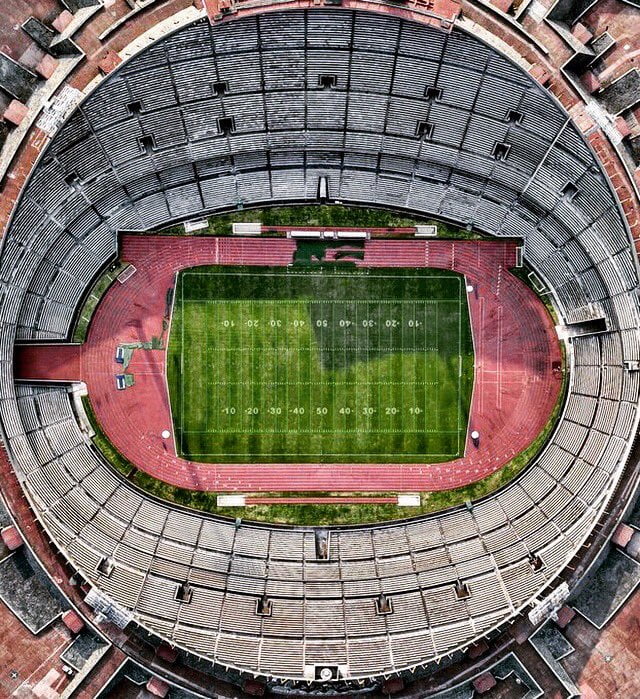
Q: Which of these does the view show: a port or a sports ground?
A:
sports ground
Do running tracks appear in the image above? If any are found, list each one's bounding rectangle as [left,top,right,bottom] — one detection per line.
[83,237,562,492]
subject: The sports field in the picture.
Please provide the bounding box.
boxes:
[168,266,474,463]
